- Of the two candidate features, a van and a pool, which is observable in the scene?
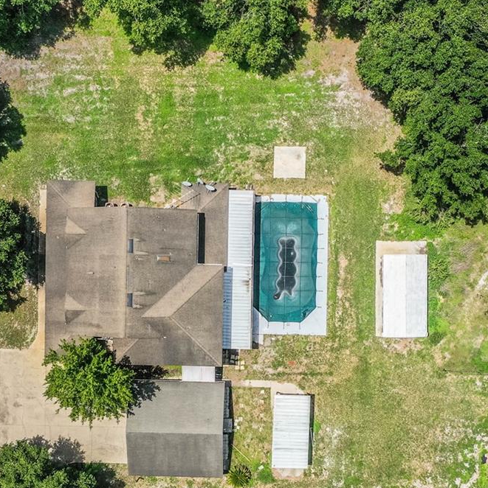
pool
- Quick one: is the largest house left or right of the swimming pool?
to its left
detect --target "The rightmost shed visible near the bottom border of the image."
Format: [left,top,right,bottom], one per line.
[271,393,310,470]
